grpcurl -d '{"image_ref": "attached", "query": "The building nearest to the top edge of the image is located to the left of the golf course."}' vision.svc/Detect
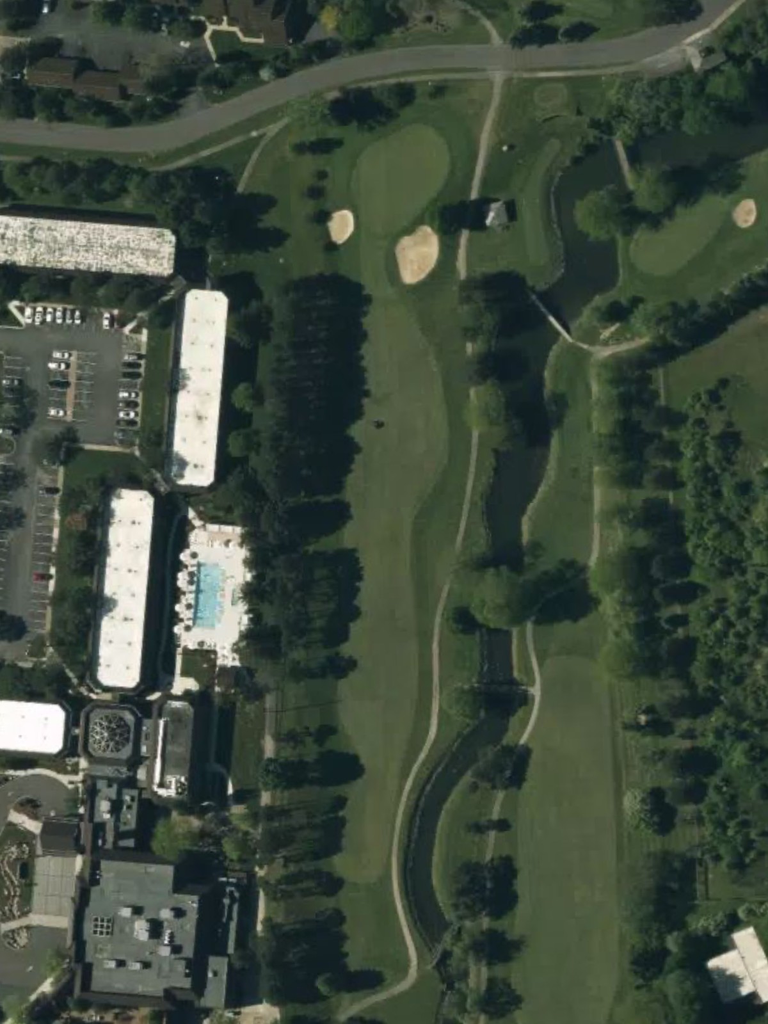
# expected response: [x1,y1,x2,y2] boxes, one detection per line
[204,0,289,46]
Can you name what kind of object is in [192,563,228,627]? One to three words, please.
swimming pool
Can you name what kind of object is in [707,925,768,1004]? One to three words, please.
house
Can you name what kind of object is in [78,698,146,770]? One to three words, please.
building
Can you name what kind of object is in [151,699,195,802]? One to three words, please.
building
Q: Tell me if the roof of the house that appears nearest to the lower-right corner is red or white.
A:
white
